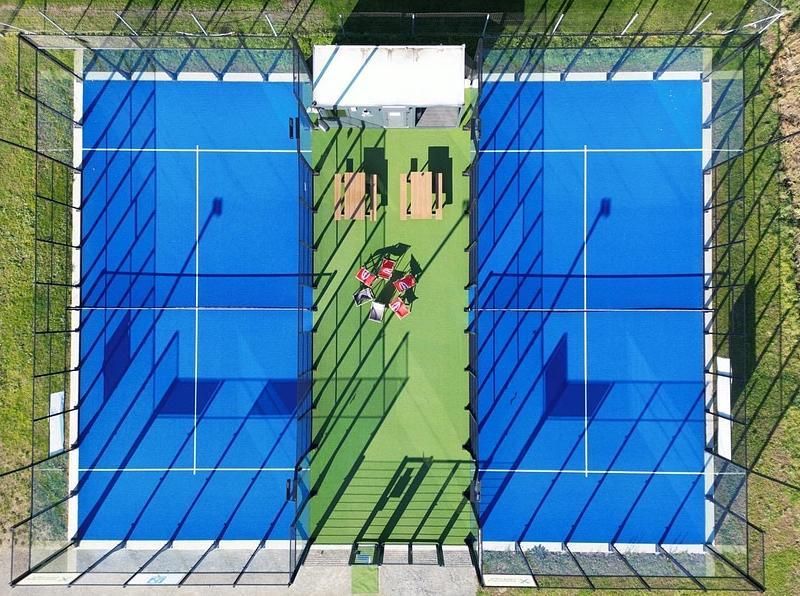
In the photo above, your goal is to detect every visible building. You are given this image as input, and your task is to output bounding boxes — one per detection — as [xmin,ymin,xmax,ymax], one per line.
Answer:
[312,41,466,130]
